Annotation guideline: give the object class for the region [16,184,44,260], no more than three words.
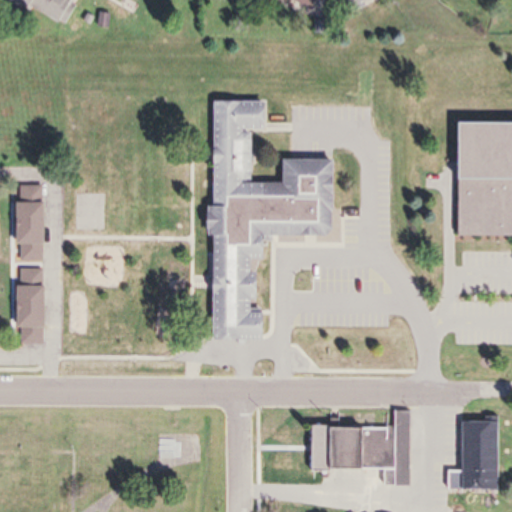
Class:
building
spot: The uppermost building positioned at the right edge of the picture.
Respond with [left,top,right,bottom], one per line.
[458,122,512,235]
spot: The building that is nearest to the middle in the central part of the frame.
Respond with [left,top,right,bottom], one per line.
[206,100,334,338]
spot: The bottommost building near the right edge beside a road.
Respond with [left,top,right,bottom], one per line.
[448,420,499,488]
